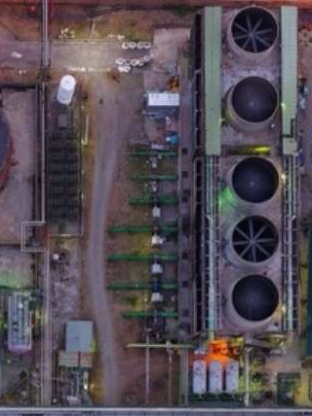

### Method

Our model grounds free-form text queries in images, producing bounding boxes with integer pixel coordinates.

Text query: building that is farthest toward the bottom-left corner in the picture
[58,352,91,369]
